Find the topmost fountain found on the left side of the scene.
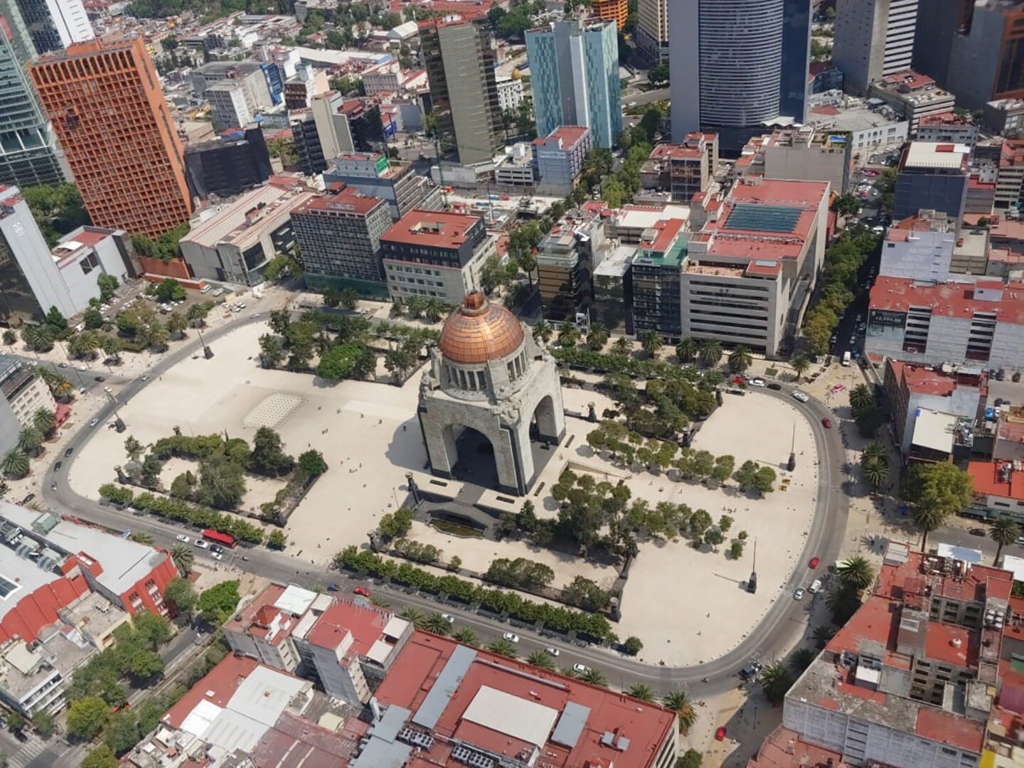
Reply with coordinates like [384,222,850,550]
[242,394,304,429]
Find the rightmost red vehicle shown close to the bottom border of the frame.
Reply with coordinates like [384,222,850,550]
[714,725,727,740]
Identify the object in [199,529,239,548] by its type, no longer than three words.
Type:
vehicle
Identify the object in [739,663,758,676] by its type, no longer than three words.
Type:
vehicle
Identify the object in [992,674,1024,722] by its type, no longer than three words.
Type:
house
